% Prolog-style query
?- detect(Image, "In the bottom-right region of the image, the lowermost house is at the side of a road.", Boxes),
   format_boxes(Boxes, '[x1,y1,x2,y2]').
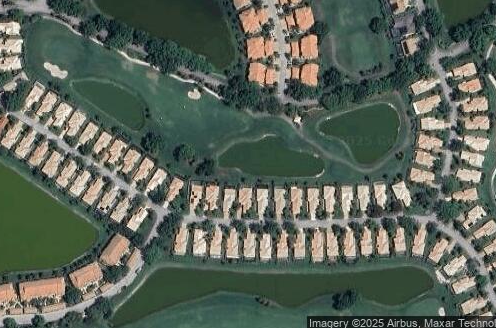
[472,308,496,328]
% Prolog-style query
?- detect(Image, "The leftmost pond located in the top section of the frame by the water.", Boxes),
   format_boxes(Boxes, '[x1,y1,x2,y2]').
[71,80,145,129]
